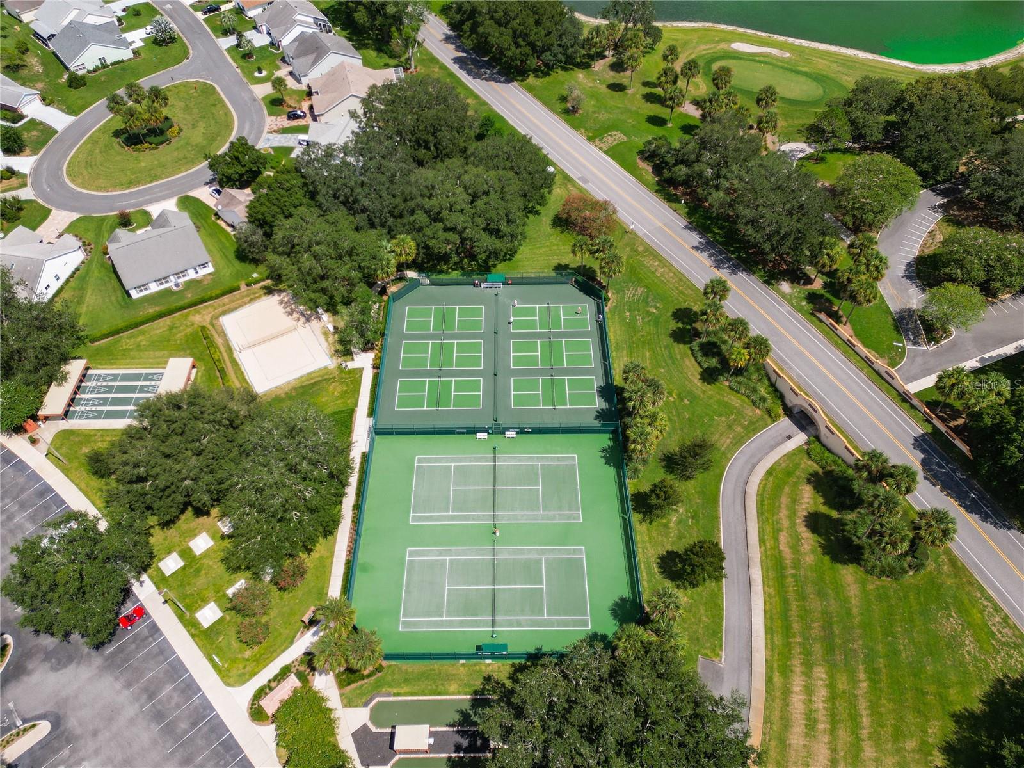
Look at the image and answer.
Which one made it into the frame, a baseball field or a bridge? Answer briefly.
bridge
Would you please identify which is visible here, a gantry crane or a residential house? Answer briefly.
residential house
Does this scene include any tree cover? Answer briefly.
Yes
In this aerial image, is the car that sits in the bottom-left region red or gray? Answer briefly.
red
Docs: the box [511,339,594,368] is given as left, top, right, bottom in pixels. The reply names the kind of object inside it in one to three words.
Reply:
sports court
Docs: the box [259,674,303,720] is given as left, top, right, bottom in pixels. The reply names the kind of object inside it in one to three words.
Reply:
building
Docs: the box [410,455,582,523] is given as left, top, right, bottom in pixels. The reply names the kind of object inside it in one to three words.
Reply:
tennis court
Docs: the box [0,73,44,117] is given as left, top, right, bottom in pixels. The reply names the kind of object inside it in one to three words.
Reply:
house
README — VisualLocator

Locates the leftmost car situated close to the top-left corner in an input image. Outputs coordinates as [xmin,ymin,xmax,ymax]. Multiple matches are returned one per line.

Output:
[141,22,157,34]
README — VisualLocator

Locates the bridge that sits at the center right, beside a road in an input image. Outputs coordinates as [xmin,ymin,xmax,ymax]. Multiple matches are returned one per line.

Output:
[759,354,868,473]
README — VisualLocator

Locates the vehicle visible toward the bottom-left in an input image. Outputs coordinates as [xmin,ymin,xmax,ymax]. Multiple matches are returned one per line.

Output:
[114,604,148,630]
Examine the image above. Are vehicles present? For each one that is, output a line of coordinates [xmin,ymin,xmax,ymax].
[114,604,148,630]
[200,4,221,14]
[298,134,309,145]
[141,22,157,34]
[206,184,223,197]
[285,109,306,119]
